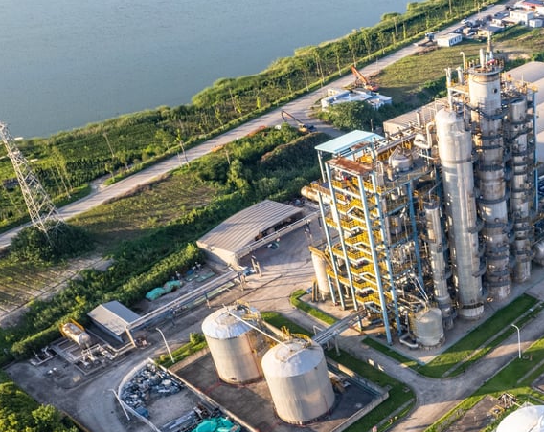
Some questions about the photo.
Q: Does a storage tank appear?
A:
Yes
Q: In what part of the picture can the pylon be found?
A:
left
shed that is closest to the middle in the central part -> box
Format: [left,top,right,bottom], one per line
[191,202,304,267]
